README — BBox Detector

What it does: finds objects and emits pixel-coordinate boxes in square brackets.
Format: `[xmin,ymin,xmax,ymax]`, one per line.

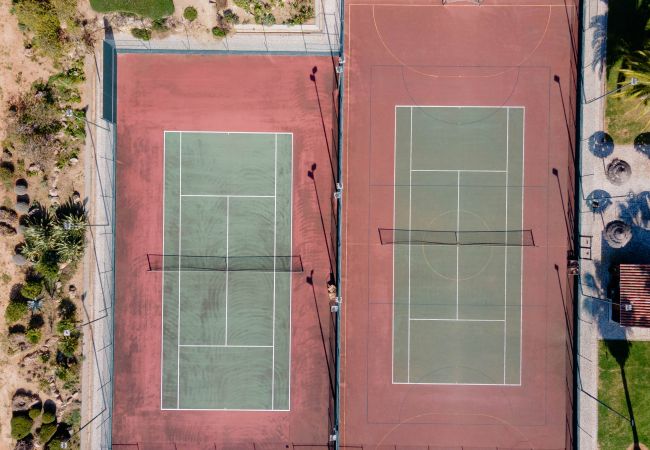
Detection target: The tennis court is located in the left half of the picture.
[113,51,340,450]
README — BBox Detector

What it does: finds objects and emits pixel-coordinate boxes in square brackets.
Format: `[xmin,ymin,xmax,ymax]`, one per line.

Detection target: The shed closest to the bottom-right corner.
[604,263,650,328]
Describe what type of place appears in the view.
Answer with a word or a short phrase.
sports ground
